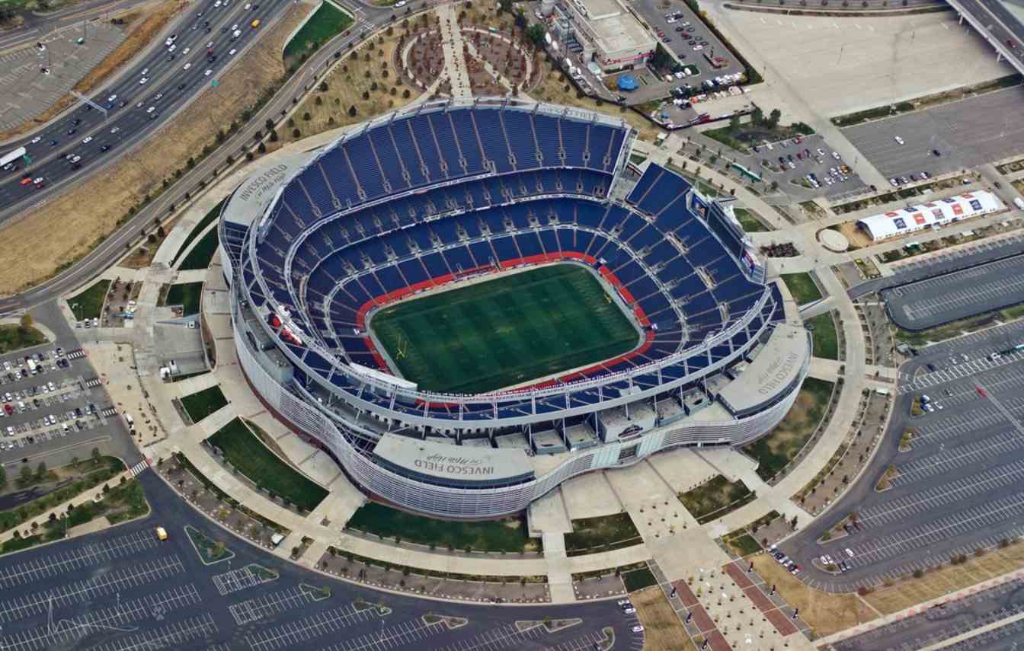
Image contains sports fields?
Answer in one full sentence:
Yes, a sports field can be made out from above.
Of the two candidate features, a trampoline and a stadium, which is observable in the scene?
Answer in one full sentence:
This aerial view contains a stadium.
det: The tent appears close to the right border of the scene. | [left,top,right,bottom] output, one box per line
[859,187,1006,241]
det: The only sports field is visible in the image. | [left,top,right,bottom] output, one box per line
[369,261,646,405]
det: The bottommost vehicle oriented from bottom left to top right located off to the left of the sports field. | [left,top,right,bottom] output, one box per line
[157,362,172,378]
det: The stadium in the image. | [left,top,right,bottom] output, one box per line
[214,94,817,523]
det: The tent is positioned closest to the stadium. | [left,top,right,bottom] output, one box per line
[615,74,640,91]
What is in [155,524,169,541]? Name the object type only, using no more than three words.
vehicle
